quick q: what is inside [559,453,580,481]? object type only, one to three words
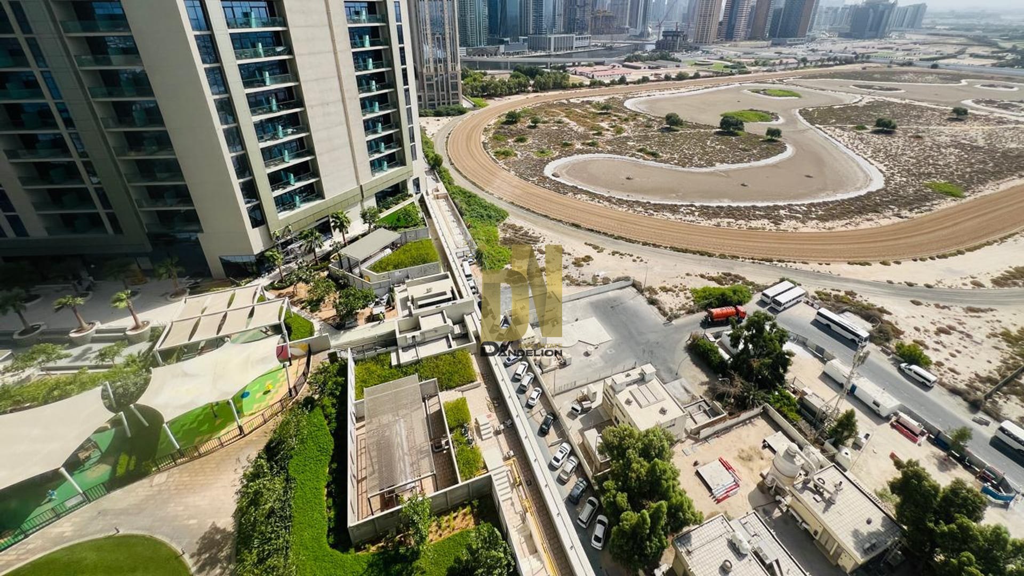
car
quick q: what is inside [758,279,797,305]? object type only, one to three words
bus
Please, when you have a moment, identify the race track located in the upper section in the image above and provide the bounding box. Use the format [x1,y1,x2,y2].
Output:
[448,64,1024,261]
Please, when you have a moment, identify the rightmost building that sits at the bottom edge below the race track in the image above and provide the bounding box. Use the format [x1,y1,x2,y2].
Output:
[784,463,908,576]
